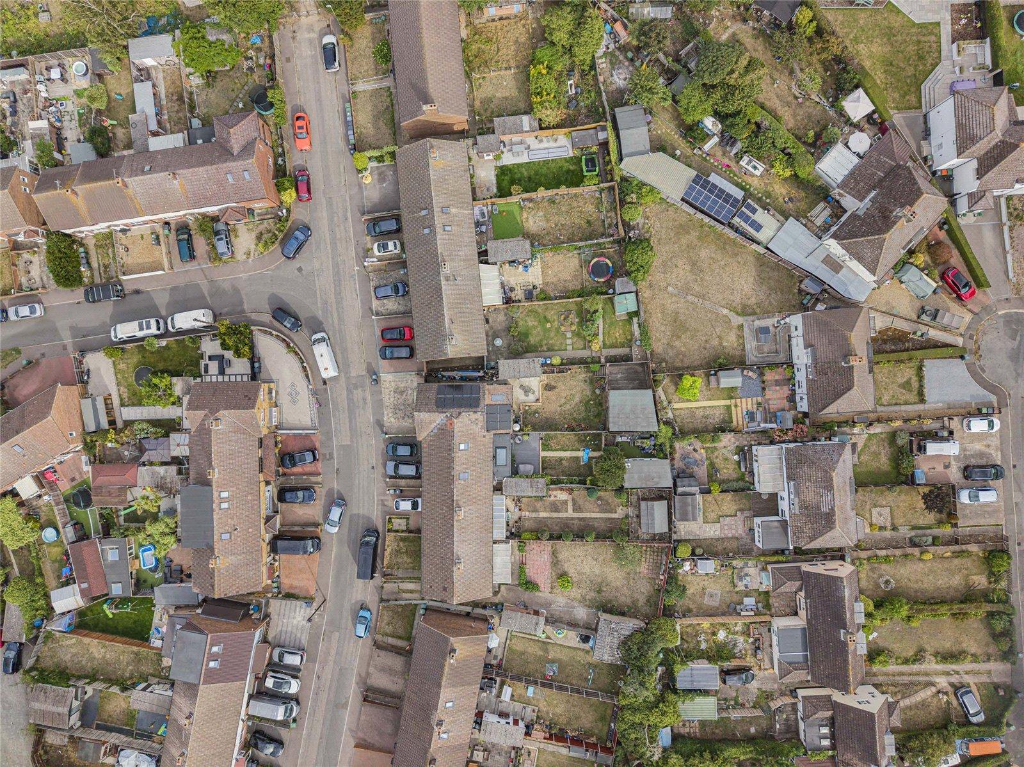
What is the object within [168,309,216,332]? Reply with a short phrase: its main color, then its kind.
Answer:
white vehicle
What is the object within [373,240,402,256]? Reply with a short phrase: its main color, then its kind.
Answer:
white car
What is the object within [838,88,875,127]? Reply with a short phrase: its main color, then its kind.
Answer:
white gazebo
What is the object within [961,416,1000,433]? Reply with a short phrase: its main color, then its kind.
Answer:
white car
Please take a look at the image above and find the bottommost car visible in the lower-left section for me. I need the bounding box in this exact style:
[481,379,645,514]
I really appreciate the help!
[245,730,286,757]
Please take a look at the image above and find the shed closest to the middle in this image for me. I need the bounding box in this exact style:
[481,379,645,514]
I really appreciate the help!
[499,358,541,379]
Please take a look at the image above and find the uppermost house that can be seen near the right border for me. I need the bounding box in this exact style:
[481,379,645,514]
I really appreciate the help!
[931,86,1024,213]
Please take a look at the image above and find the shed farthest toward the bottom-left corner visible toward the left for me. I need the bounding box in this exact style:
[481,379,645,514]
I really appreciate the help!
[27,679,85,729]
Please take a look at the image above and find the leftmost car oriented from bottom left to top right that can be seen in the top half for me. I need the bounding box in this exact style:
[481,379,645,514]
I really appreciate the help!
[280,224,312,262]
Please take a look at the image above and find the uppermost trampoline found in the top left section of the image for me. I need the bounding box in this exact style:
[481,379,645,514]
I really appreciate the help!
[239,80,273,115]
